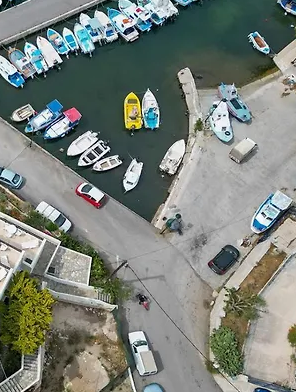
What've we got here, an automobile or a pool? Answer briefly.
automobile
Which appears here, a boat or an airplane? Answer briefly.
boat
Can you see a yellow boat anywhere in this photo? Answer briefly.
Yes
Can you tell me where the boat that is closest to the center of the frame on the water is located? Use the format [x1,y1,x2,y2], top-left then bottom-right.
[123,157,147,196]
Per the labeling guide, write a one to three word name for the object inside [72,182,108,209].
car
